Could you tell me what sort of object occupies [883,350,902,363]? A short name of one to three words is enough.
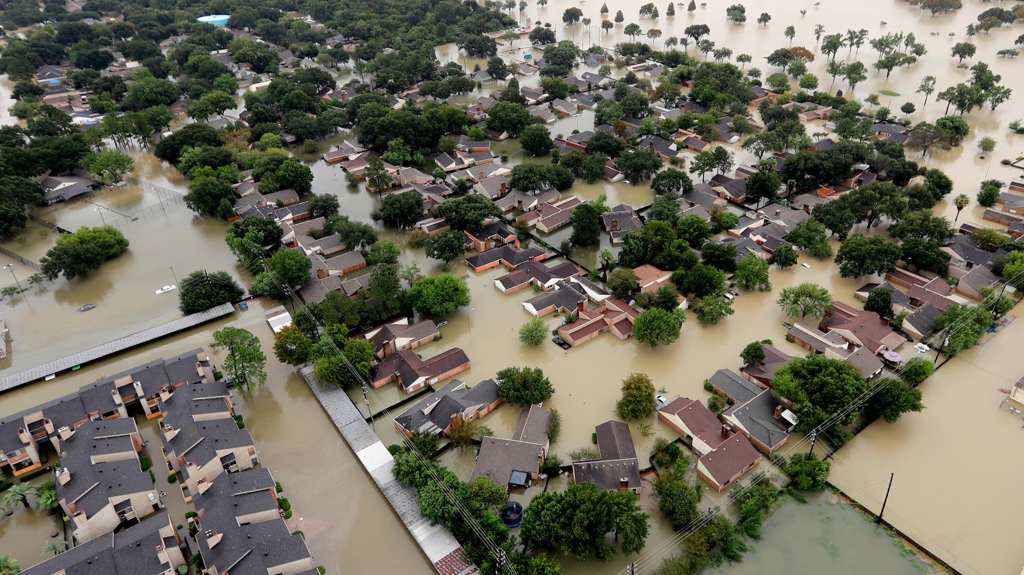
umbrella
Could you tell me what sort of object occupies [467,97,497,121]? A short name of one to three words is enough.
house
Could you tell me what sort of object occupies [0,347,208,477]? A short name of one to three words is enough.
building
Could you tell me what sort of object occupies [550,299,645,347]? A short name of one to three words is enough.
house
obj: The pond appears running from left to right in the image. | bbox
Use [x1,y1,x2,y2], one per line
[670,486,941,575]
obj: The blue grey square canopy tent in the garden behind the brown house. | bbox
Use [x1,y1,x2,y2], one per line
[505,469,535,499]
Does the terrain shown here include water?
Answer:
Yes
